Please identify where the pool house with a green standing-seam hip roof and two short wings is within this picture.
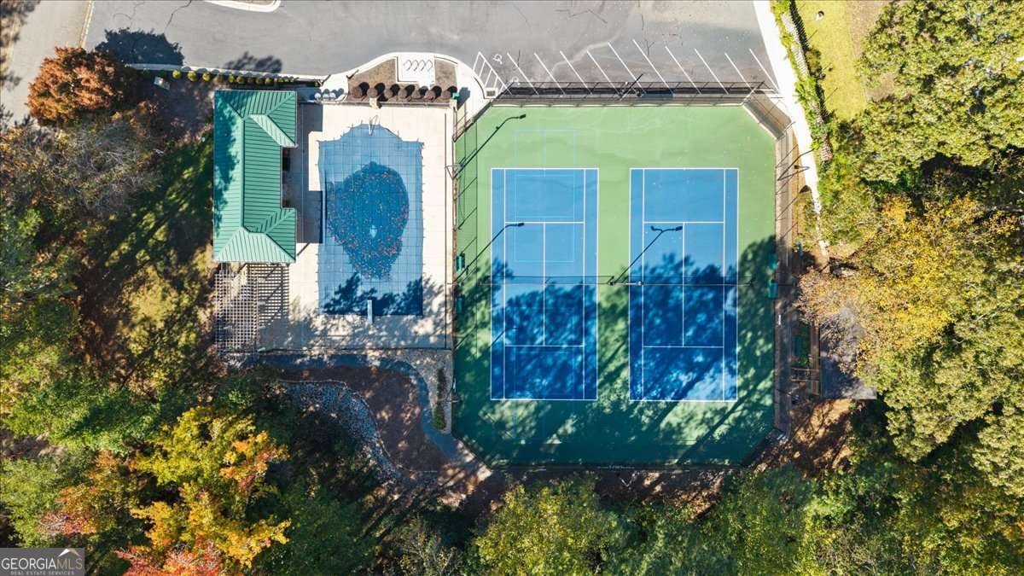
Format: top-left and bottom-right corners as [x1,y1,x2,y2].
[212,90,299,262]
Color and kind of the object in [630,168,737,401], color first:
blue tennis court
